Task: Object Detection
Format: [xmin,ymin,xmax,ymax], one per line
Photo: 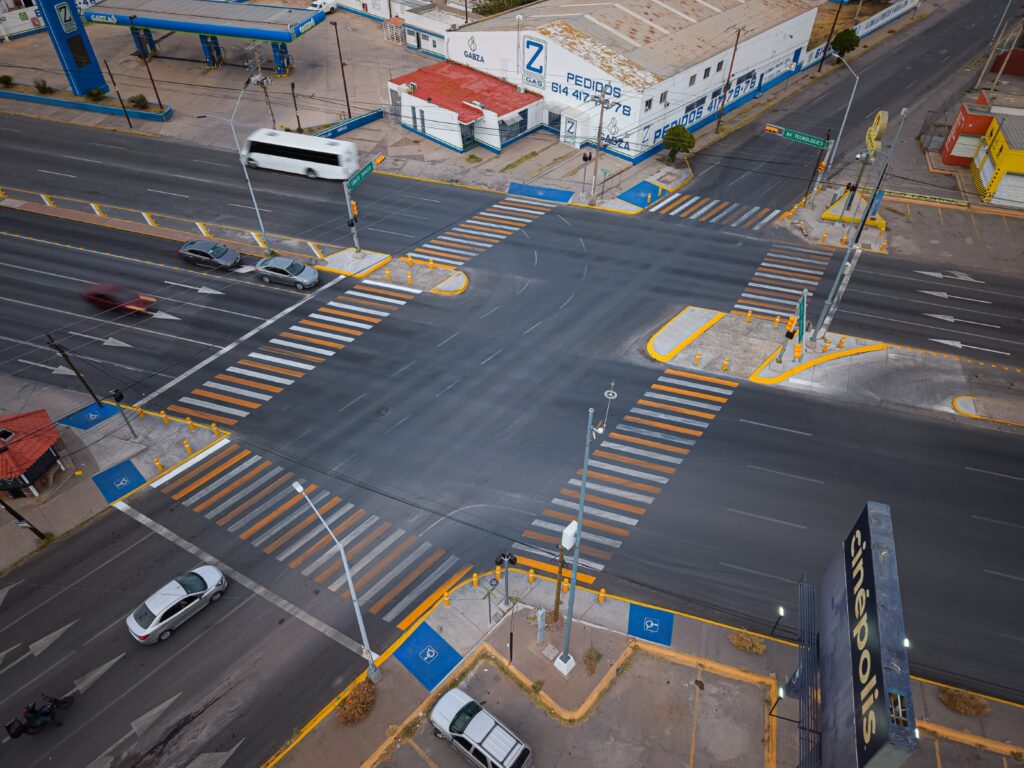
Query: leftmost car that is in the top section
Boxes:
[89,281,151,316]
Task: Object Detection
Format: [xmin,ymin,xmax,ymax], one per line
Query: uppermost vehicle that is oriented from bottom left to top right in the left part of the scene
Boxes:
[124,564,226,647]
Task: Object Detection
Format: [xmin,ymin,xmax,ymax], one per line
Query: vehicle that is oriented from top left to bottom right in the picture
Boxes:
[430,690,538,768]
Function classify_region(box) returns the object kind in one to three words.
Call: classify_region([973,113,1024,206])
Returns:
building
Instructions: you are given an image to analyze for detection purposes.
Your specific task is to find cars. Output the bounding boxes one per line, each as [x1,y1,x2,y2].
[89,281,151,316]
[430,690,538,768]
[183,239,245,269]
[124,564,226,647]
[255,257,319,289]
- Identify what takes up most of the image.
paved ground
